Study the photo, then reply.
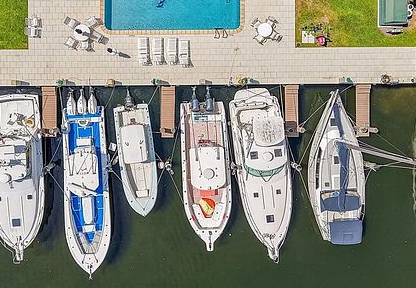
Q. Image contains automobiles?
No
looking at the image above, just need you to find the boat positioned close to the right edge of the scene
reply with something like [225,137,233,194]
[309,91,416,245]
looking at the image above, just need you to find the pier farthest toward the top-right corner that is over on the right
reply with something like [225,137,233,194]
[352,86,371,137]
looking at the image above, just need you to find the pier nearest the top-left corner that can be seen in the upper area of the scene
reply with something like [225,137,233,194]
[42,86,58,137]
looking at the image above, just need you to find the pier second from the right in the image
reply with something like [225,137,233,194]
[283,86,299,137]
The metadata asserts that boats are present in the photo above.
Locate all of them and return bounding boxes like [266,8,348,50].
[309,91,416,245]
[179,84,232,255]
[230,87,297,267]
[113,88,157,217]
[0,94,47,267]
[61,88,112,282]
